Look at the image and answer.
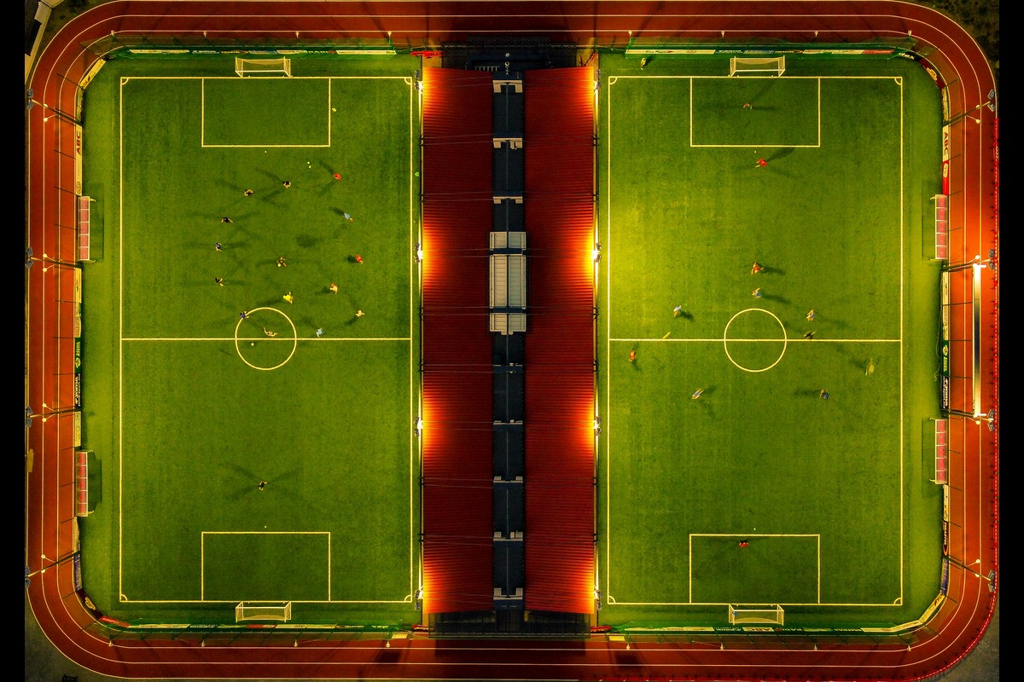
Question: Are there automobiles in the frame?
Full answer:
No, I can't see a single automobile in this photo.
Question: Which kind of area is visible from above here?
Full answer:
This looks like a sports ground.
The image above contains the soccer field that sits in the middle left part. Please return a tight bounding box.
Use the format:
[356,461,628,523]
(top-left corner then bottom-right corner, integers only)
[74,47,419,632]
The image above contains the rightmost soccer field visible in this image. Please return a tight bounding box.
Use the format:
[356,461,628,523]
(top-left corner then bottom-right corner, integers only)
[601,47,949,635]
